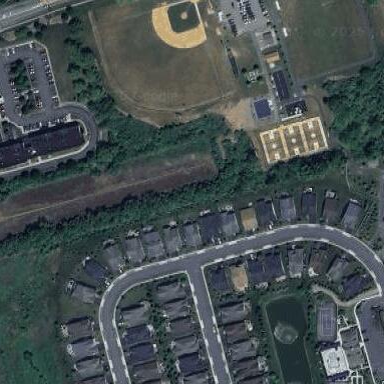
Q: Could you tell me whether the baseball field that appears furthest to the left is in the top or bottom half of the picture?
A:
top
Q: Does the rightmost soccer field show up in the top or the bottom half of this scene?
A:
top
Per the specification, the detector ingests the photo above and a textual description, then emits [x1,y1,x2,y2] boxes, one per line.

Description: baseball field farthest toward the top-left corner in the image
[102,0,235,110]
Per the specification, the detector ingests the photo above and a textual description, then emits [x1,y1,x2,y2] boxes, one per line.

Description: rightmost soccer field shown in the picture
[289,0,372,81]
